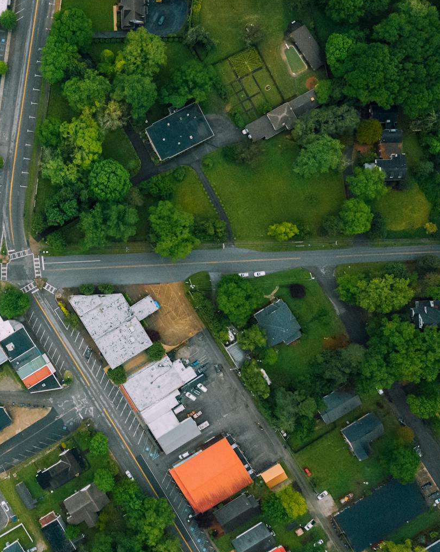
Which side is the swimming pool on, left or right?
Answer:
right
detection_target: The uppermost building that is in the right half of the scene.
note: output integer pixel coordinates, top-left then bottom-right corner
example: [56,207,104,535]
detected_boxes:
[291,25,324,70]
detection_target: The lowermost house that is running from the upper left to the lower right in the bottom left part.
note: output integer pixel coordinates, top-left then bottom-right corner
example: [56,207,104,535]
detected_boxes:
[38,510,77,552]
